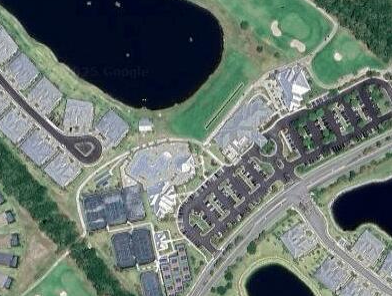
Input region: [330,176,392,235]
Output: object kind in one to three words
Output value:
pond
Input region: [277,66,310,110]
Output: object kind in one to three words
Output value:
building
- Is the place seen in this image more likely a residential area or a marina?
residential area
